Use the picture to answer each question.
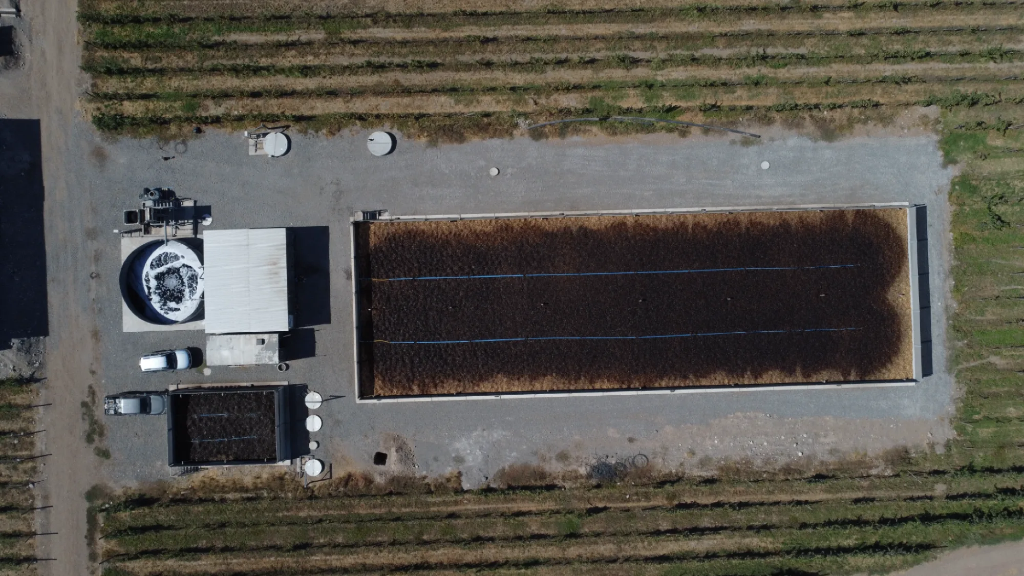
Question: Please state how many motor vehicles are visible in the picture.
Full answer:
Altogether the scene contains 2 motor vehicles.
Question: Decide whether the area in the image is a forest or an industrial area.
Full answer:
The area seen from above is an industrial area.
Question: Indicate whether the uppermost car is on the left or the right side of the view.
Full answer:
The uppermost car appears in the left half of the scene.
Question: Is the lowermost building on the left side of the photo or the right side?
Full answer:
It is on the left.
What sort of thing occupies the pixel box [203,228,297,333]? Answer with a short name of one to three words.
shed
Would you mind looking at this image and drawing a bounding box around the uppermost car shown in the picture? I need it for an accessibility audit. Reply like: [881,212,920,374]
[138,349,194,374]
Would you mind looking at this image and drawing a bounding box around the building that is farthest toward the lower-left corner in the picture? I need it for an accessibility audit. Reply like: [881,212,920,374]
[206,333,288,365]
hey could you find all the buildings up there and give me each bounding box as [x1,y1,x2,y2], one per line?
[203,228,297,333]
[206,333,288,365]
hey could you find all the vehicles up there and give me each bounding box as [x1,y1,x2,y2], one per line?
[138,349,194,374]
[103,393,168,419]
